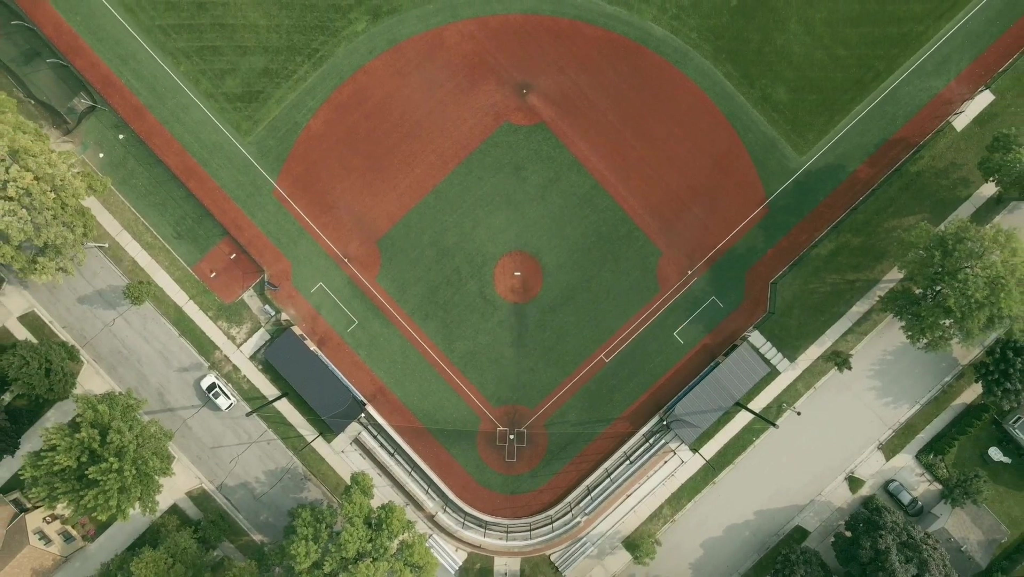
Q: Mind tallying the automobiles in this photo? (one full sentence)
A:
In total, there are 2 automobiles in the scene.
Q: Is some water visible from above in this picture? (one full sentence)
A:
No, there is no water in the image.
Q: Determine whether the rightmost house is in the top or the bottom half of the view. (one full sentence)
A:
The rightmost house is in the bottom half of the image.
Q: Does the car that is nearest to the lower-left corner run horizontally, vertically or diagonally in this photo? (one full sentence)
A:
In this picture, the car that is nearest to the lower-left corner is oriented diagonally.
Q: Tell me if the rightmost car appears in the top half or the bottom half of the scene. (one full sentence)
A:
The rightmost car sits in the bottom half of the picture.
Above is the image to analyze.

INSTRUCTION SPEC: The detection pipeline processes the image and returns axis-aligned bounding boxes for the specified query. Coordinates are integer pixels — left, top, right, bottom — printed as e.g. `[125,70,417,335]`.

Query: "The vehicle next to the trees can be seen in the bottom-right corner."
[884,476,922,518]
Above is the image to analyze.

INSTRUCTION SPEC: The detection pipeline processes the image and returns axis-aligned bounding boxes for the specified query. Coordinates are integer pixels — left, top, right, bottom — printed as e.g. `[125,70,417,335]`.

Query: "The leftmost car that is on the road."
[201,374,238,413]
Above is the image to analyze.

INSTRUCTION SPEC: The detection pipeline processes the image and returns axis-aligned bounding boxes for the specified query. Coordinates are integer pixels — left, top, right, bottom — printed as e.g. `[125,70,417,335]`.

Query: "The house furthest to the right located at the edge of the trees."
[995,408,1024,444]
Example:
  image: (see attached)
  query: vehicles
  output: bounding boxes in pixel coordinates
[884,476,922,518]
[201,374,238,413]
